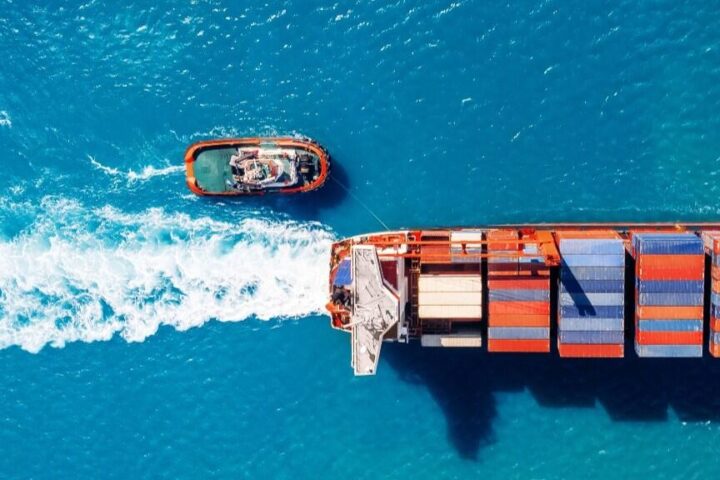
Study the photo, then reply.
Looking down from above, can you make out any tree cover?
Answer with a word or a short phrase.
No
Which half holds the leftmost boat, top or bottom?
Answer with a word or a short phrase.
top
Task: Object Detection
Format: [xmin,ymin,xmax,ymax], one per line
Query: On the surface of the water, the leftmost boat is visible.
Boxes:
[186,136,333,197]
